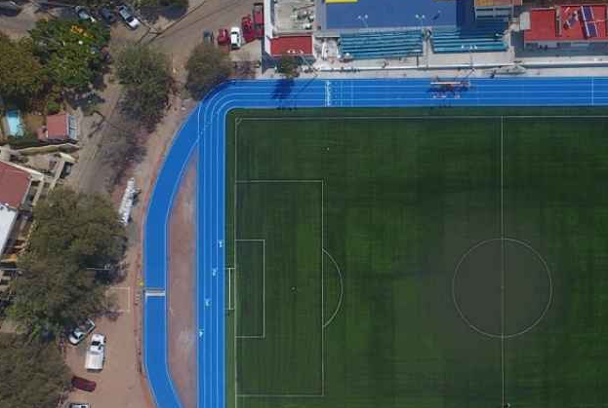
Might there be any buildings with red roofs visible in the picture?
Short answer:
Yes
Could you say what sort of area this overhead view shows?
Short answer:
sports ground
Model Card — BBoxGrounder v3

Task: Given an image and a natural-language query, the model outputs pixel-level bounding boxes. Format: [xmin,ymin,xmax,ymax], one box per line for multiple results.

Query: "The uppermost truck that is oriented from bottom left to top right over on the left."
[68,318,95,345]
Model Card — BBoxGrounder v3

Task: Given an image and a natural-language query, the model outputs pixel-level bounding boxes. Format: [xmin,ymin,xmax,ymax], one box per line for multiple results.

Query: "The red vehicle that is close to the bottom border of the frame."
[70,377,97,391]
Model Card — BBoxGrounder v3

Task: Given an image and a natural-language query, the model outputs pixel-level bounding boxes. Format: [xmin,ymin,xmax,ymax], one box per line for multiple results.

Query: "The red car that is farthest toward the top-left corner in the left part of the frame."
[217,26,229,48]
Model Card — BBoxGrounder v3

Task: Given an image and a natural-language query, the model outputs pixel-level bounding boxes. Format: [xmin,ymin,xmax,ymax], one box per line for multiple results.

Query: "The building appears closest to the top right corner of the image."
[519,3,608,46]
